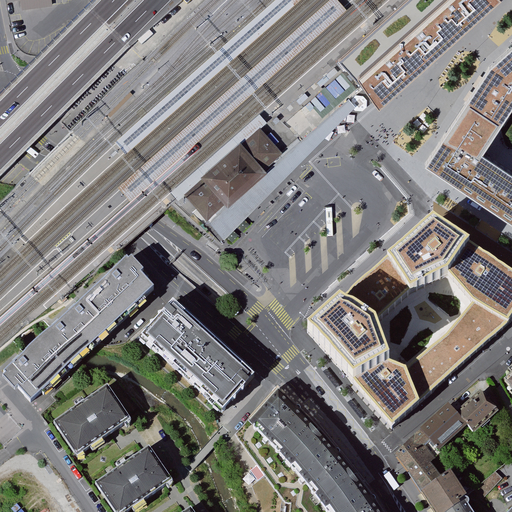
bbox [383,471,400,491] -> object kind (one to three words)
vehicle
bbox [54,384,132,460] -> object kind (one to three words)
house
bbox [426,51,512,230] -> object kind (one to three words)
building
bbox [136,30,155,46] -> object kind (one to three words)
vehicle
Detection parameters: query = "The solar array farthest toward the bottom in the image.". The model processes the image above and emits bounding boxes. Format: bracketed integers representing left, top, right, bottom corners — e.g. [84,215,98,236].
[362,365,410,412]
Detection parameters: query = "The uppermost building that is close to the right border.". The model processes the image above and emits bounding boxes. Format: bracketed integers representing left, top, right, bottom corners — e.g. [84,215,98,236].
[360,0,508,114]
